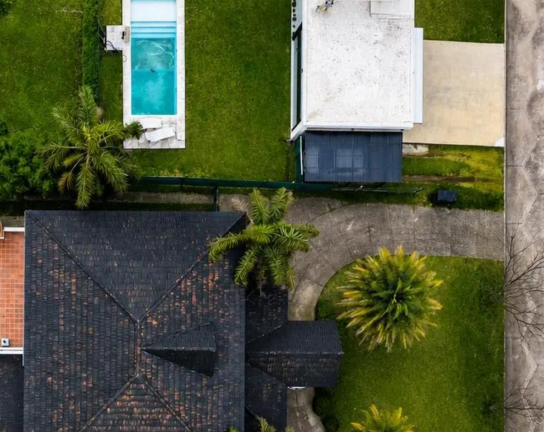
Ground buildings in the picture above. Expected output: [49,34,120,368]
[290,0,422,187]
[0,208,344,432]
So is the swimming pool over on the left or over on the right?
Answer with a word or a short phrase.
left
